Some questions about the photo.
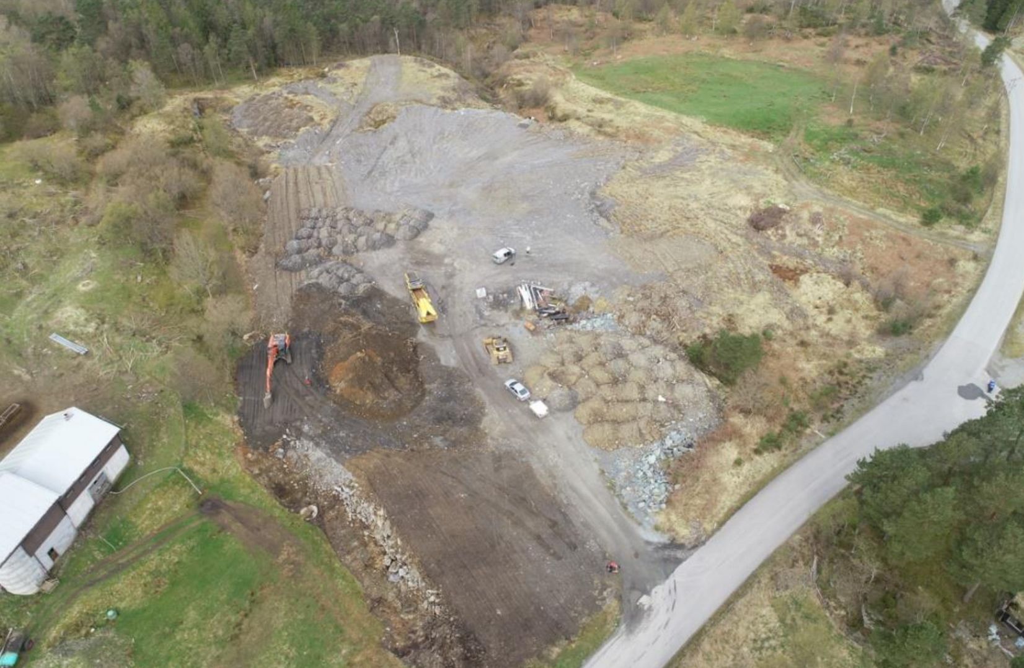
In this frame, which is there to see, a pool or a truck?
truck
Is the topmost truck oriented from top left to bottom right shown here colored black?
No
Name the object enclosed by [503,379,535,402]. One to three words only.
car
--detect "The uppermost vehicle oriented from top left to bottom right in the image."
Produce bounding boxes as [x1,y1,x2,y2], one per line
[403,274,440,321]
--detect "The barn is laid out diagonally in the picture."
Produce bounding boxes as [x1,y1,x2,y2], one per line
[0,407,131,610]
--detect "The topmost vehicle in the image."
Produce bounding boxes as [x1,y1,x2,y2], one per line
[490,245,516,262]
